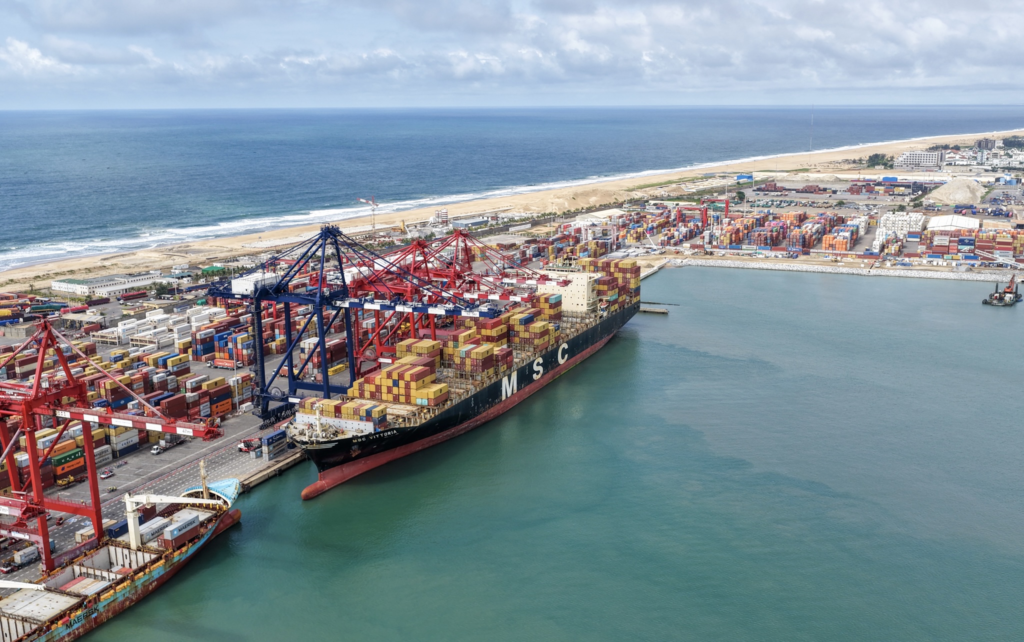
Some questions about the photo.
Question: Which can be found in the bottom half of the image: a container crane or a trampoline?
container crane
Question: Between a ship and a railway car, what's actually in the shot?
ship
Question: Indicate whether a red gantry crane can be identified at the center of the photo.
Yes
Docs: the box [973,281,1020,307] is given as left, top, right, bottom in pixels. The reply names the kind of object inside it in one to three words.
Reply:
ship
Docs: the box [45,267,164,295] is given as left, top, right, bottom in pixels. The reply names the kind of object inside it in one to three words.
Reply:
building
